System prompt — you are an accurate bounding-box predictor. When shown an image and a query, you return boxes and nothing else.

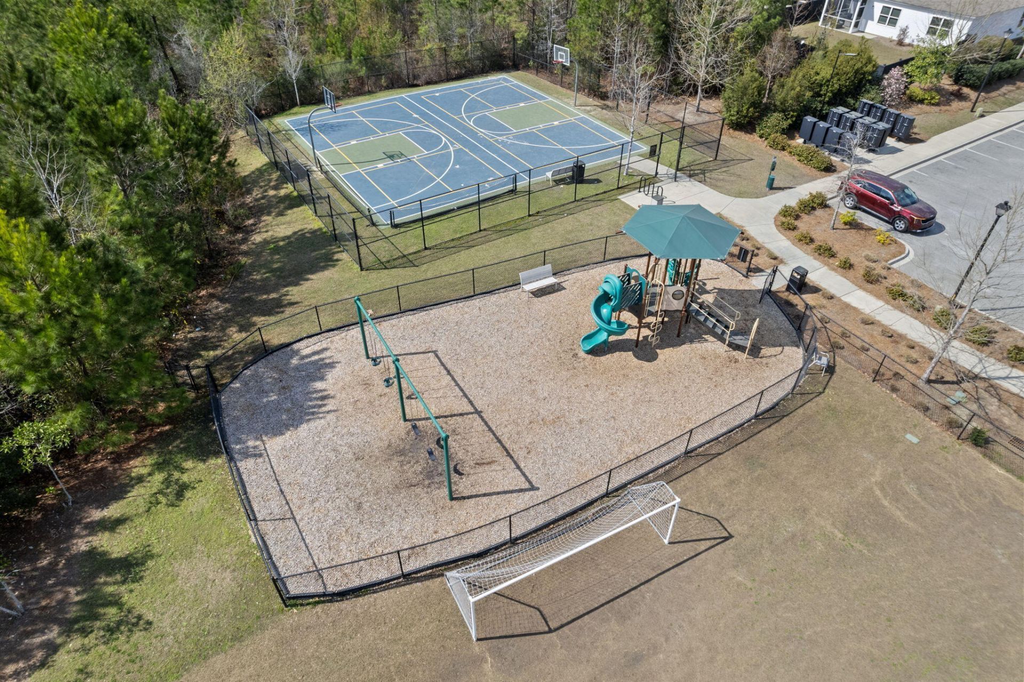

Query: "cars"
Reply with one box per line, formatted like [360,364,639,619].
[837,166,941,232]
